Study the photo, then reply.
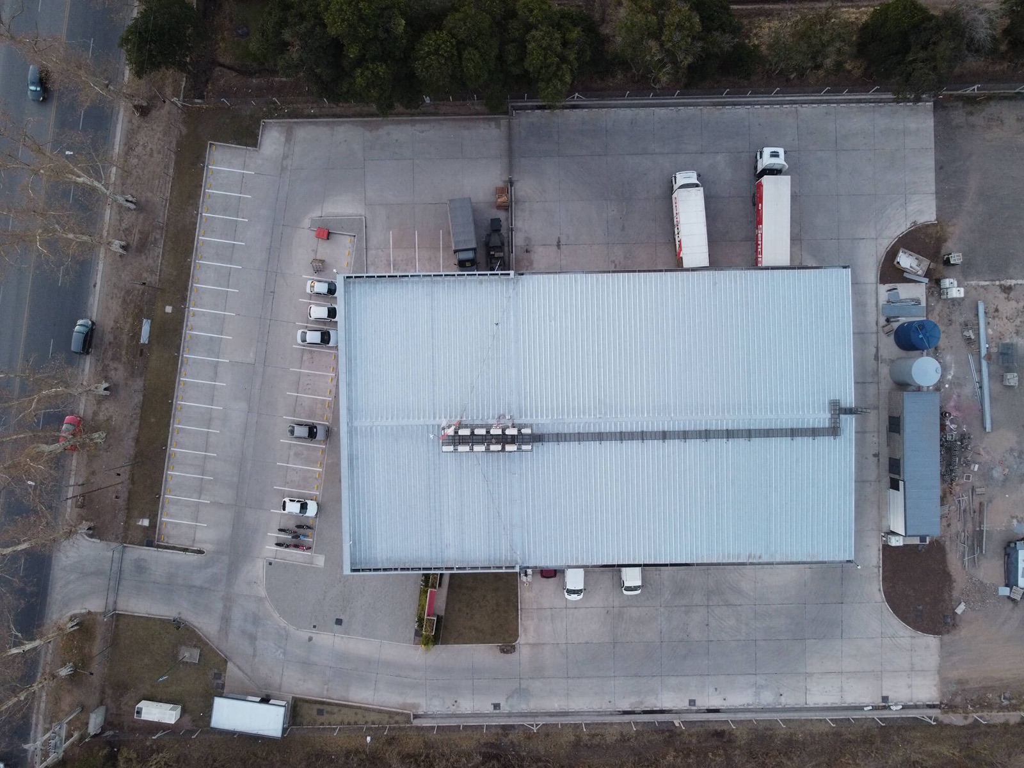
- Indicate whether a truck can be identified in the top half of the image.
Yes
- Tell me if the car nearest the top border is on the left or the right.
left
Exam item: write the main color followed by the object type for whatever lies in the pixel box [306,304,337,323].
white car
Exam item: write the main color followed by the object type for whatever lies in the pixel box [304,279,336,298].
white car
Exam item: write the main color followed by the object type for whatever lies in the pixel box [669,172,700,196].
white truck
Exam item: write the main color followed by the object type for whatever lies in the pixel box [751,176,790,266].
white trailer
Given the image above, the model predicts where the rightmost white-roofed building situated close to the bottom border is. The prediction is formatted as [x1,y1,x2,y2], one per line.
[210,679,291,737]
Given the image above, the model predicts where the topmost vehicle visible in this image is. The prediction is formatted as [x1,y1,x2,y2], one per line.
[22,61,46,101]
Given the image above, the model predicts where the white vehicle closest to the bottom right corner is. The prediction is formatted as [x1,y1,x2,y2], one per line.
[623,569,643,594]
